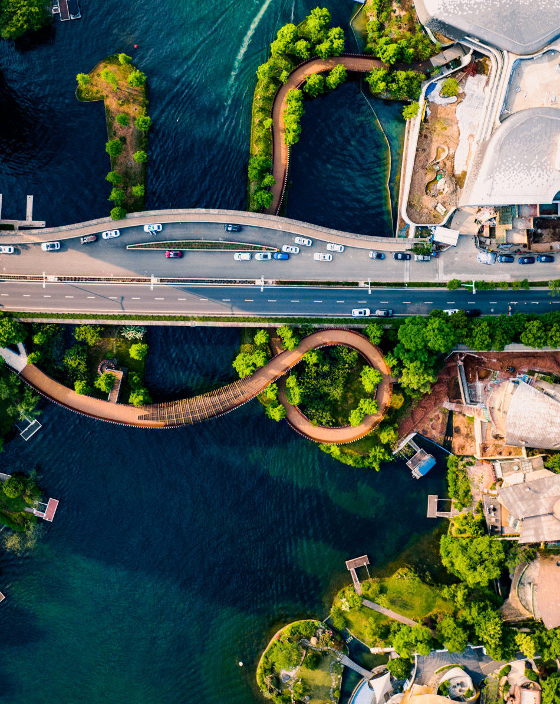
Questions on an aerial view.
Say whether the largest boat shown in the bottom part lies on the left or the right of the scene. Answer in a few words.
right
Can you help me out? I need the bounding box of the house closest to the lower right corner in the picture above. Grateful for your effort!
[498,675,541,704]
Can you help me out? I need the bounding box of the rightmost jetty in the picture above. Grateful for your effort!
[427,494,453,520]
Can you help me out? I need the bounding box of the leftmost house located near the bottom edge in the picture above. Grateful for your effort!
[395,659,483,704]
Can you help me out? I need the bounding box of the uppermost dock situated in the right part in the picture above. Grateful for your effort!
[404,439,430,468]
